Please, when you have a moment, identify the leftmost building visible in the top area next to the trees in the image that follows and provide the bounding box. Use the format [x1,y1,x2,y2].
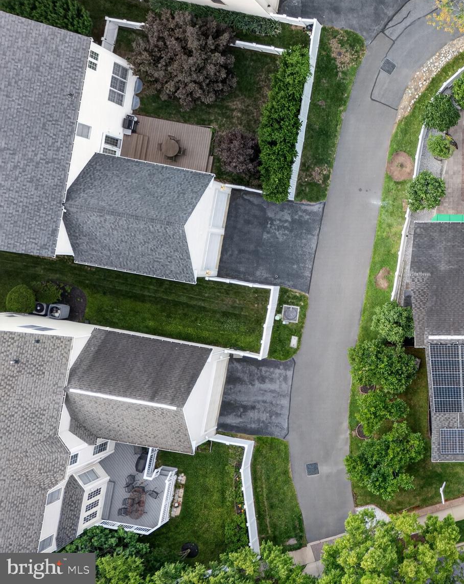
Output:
[0,10,231,284]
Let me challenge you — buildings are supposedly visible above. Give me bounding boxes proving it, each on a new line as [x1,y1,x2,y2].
[401,220,464,463]
[188,0,280,16]
[0,323,228,569]
[0,10,231,284]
